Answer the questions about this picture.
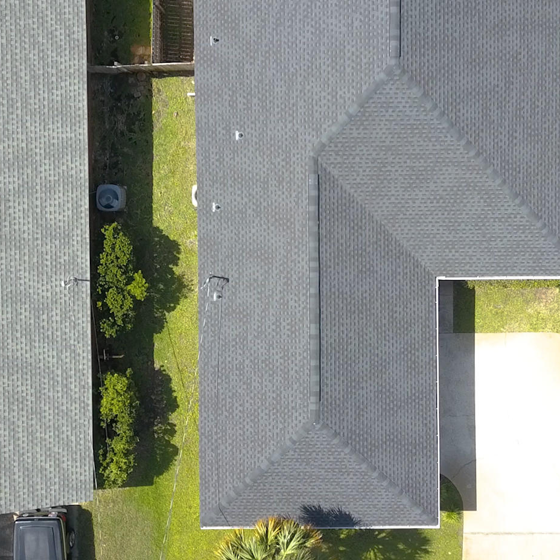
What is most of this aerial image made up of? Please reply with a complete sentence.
The bulk of the photo consists of buildings.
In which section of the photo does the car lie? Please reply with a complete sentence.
The car appears toward the bottom left of the photo.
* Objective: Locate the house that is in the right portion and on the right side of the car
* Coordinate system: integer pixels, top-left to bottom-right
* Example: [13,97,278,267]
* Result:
[188,0,560,532]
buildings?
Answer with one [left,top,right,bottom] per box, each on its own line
[0,0,97,512]
[188,0,560,532]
